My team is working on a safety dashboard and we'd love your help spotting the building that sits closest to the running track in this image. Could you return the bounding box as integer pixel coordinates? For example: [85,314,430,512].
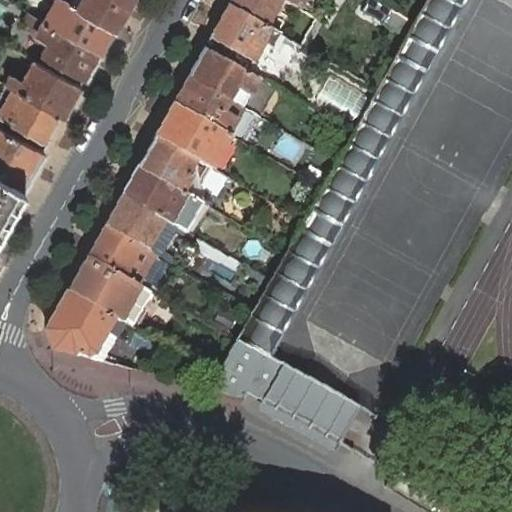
[260,362,379,446]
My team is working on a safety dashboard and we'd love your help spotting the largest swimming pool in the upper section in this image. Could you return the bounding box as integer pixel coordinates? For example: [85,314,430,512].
[273,131,306,166]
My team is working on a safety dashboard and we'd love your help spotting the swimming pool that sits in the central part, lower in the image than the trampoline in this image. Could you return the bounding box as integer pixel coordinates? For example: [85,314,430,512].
[243,240,262,256]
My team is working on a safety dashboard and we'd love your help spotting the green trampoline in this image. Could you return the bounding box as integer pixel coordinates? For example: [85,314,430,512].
[233,190,252,209]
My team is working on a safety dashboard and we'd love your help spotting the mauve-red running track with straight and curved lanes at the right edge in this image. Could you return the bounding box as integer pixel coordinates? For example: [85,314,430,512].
[424,220,512,410]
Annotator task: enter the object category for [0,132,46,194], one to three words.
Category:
house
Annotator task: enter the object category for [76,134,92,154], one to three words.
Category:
car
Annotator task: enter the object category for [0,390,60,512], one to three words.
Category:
roundabout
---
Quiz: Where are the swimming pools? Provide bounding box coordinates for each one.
[273,131,306,166]
[243,240,262,256]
